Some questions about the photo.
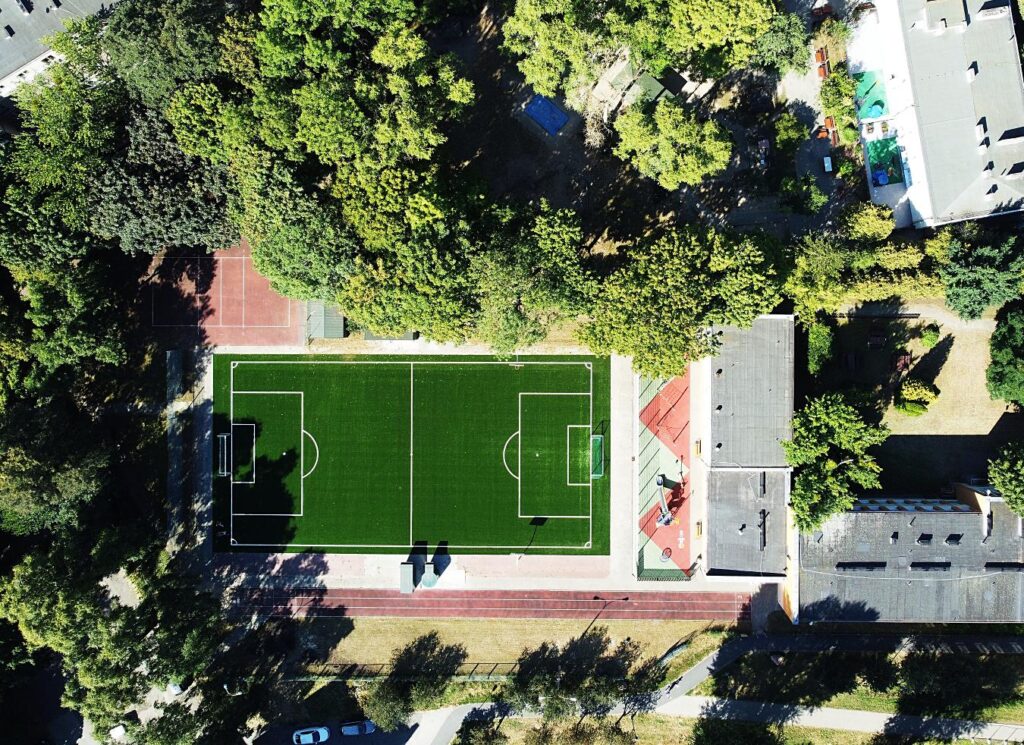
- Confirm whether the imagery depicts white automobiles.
No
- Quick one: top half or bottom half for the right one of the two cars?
bottom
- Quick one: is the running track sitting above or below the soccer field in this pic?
below it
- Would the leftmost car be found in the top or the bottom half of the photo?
bottom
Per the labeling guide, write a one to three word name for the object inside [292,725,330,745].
car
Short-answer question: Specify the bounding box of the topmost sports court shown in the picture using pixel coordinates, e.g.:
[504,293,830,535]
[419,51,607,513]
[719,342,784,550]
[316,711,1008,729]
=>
[148,232,310,346]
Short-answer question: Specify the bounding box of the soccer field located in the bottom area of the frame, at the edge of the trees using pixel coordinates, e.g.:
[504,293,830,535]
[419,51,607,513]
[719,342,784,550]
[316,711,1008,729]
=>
[212,354,610,556]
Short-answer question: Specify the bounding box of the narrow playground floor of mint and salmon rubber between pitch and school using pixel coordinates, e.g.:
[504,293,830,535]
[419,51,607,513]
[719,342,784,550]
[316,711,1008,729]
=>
[640,350,690,577]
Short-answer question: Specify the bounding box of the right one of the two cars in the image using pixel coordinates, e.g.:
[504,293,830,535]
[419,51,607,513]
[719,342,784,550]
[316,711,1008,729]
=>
[340,717,377,739]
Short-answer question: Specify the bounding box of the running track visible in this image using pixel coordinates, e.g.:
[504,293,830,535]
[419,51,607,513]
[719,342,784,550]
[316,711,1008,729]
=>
[226,588,753,621]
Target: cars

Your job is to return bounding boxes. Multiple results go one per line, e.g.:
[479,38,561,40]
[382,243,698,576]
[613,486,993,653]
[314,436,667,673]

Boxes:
[292,725,330,745]
[340,717,377,739]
